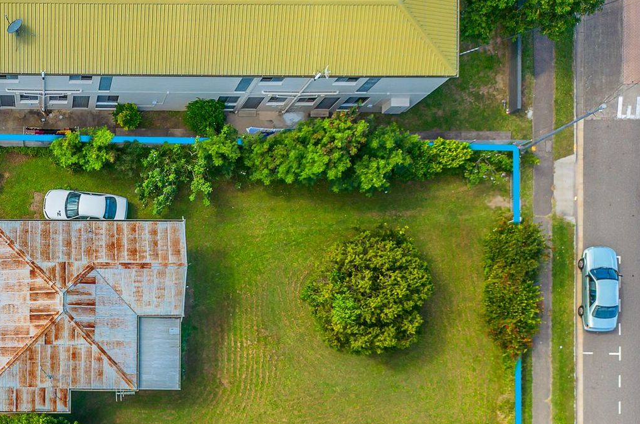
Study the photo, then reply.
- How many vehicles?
2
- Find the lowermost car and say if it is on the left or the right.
right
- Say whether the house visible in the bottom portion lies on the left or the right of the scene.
left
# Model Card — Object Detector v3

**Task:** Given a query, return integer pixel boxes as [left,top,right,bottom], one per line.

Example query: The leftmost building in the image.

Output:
[0,216,189,417]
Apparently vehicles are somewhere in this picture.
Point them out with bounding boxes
[581,248,632,334]
[43,185,130,217]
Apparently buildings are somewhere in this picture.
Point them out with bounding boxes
[0,0,463,116]
[0,216,189,417]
